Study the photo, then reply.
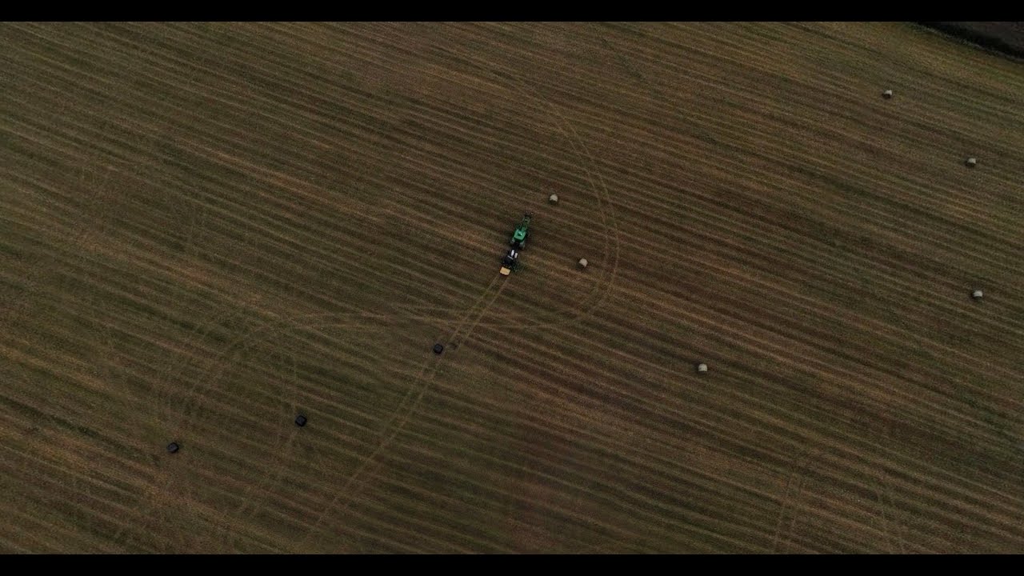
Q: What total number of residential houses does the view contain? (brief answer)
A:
zero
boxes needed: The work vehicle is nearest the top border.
[510,214,533,250]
